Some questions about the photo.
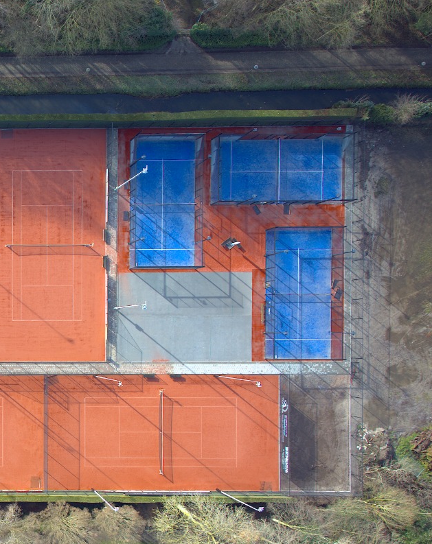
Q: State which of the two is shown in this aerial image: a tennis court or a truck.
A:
tennis court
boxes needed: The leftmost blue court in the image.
[130,133,211,268]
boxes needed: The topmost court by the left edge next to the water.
[0,129,107,363]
